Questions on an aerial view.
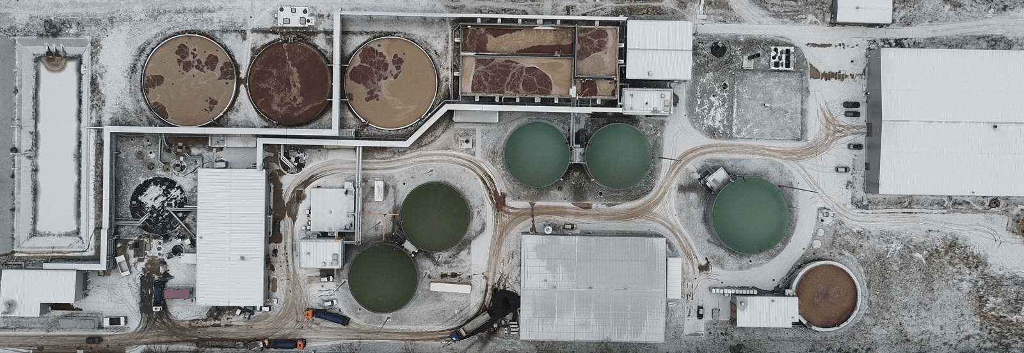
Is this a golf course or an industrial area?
industrial area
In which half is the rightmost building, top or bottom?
top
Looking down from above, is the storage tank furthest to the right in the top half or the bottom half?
bottom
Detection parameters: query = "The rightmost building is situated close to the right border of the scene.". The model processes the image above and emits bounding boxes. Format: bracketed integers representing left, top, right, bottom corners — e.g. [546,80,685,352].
[867,49,1024,194]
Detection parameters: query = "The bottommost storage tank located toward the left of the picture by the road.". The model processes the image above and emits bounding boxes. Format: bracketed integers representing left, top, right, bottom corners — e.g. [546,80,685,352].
[347,239,422,314]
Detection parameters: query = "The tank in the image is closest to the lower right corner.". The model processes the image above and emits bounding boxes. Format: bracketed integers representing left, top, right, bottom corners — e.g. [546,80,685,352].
[787,259,862,331]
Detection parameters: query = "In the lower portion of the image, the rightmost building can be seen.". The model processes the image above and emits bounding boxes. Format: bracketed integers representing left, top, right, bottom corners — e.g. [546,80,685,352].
[731,294,799,328]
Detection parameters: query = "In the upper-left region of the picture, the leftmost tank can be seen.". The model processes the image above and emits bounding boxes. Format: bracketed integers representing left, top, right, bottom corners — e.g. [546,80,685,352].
[142,32,241,128]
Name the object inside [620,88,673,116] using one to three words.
building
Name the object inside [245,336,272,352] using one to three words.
vehicle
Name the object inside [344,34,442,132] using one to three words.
storage tank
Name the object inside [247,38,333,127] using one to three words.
storage tank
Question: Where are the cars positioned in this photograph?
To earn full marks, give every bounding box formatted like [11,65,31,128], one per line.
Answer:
[86,336,103,345]
[711,307,719,320]
[847,143,863,150]
[321,275,335,283]
[232,306,244,318]
[260,306,271,312]
[561,222,577,230]
[211,306,225,321]
[842,100,860,109]
[696,305,704,320]
[844,110,860,118]
[323,299,337,307]
[242,307,253,322]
